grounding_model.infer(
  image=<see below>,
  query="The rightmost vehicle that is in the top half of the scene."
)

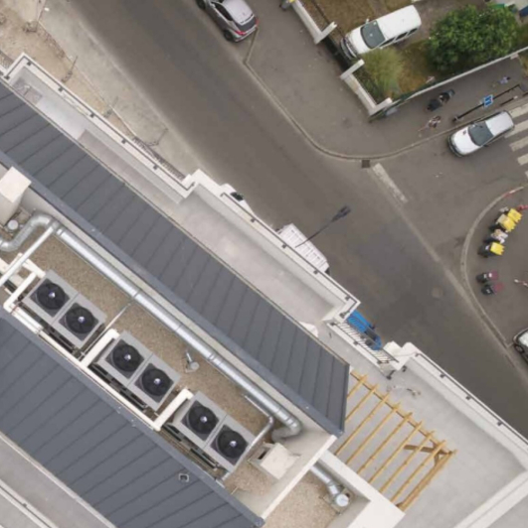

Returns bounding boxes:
[442,106,519,160]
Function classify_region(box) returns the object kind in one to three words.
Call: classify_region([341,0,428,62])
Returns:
van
